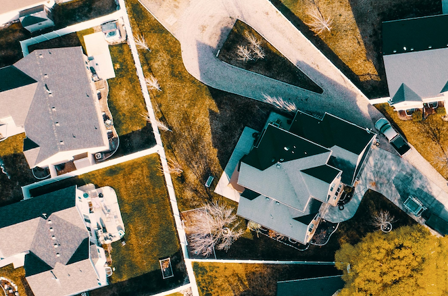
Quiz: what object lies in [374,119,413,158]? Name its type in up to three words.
truck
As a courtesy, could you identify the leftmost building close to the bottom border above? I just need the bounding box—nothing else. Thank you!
[0,185,114,296]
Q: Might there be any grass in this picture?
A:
Yes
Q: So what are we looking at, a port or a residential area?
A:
residential area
